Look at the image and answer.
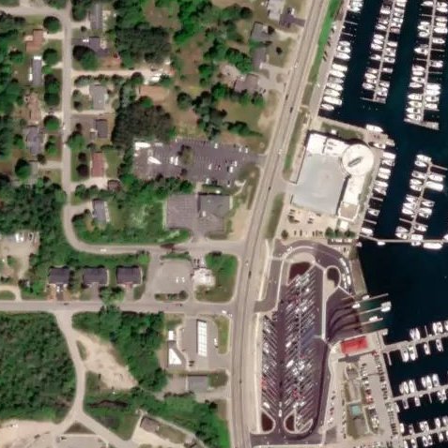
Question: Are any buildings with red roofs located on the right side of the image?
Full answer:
Yes, a building with a red roof is visible on the right side of the image.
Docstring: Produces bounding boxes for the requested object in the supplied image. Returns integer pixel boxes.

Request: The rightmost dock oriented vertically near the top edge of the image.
[405,0,448,129]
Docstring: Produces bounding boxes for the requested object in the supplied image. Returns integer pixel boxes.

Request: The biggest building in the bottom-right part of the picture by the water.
[340,335,368,353]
